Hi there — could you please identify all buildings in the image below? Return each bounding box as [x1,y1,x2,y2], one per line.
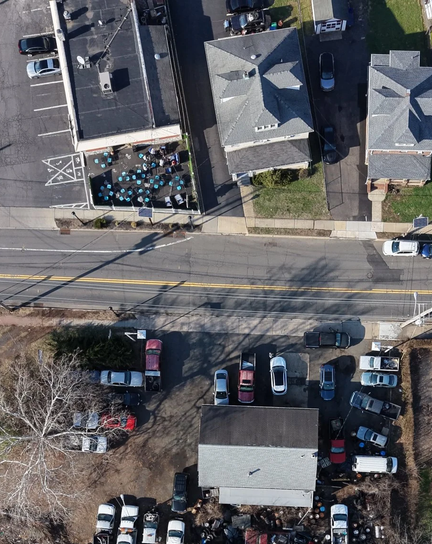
[365,50,432,191]
[204,27,314,186]
[310,0,345,41]
[198,405,318,508]
[52,0,184,162]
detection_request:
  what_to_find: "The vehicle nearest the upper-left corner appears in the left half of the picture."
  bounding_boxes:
[17,34,60,58]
